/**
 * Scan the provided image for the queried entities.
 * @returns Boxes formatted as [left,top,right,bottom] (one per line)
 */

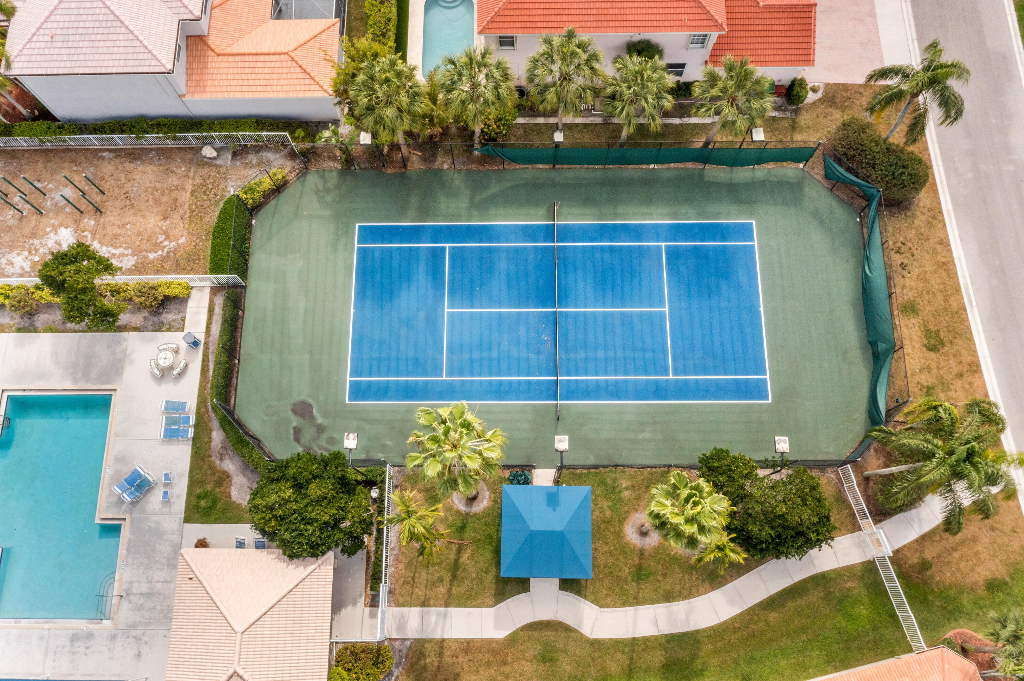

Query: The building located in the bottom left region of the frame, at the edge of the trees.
[165,551,335,681]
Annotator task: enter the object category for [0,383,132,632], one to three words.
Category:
swimming pool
